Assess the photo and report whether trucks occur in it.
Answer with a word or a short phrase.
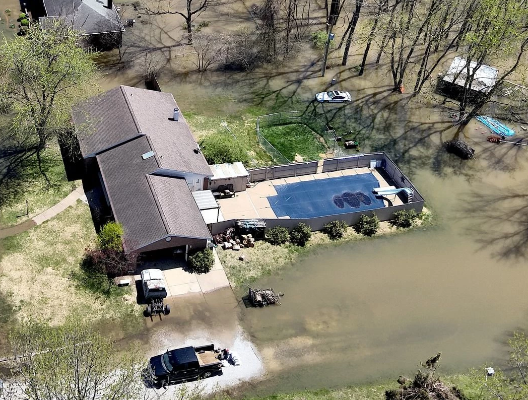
Yes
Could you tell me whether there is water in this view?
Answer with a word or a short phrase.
Yes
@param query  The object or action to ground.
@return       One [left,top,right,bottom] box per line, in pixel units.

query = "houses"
[72,84,213,264]
[33,0,127,56]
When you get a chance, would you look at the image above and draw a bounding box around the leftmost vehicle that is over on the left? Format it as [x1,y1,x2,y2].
[134,267,175,343]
